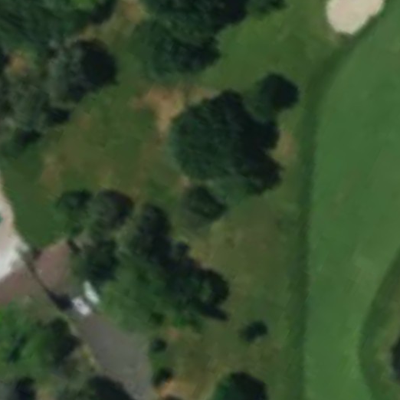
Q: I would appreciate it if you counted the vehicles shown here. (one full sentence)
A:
Looking from above, you can make out 2 vehicles.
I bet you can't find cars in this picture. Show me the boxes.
[81,281,102,308]
[69,296,93,317]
